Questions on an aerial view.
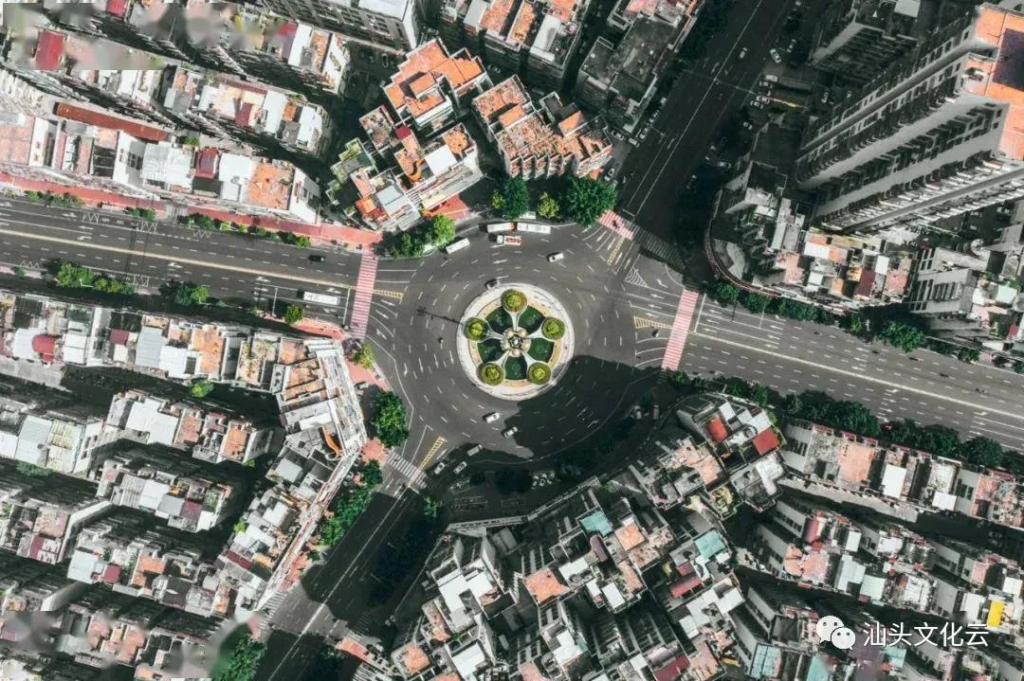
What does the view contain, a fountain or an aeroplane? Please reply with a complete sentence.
Of the two, only a fountain appears.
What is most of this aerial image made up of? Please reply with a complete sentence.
What you mostly see from above here is buildings.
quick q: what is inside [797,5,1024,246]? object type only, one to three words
building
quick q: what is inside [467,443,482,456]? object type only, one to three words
vehicle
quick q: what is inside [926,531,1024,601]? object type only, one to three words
building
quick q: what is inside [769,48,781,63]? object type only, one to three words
vehicle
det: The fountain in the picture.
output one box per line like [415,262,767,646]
[502,330,530,356]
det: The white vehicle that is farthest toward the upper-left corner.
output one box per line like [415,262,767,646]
[302,292,338,304]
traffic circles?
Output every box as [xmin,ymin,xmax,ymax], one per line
[392,219,640,463]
